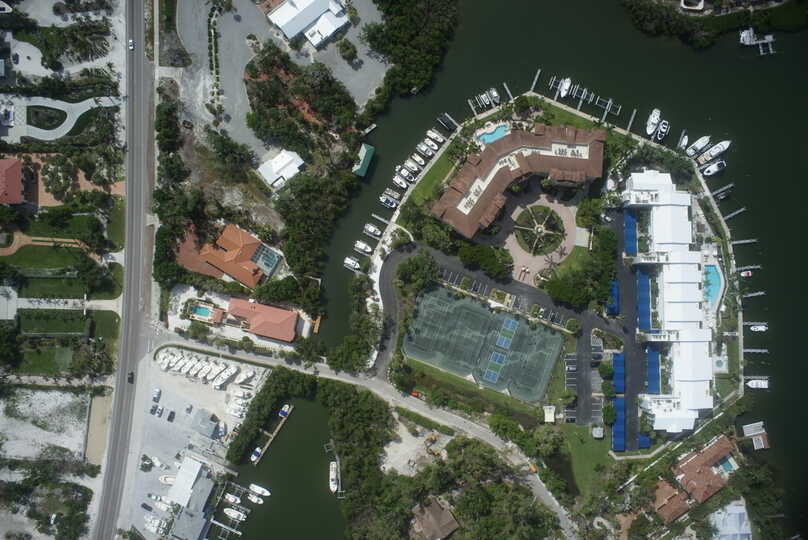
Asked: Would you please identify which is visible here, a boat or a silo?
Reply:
boat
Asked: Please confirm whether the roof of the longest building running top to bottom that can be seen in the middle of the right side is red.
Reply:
No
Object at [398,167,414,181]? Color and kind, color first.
white boat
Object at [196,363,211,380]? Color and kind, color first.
white boat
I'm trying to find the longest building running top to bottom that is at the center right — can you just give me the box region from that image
[623,170,713,433]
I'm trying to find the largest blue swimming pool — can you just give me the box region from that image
[703,264,721,309]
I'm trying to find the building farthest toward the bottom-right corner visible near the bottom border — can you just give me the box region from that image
[712,500,753,540]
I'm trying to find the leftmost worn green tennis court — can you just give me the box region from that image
[413,295,457,358]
